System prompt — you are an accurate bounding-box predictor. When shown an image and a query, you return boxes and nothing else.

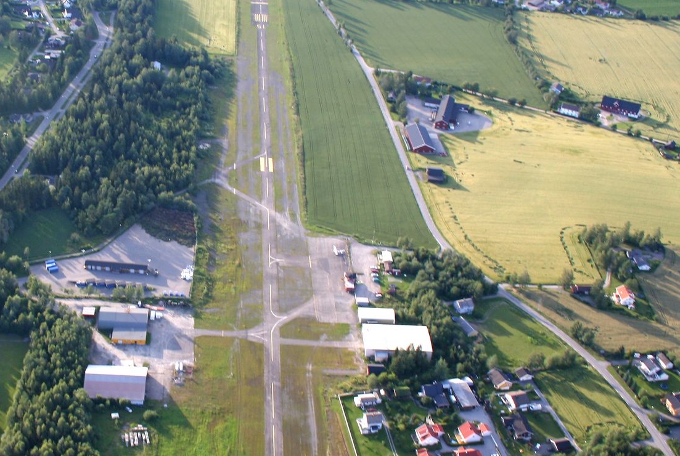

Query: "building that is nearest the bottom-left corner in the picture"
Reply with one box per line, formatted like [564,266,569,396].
[82,366,148,405]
